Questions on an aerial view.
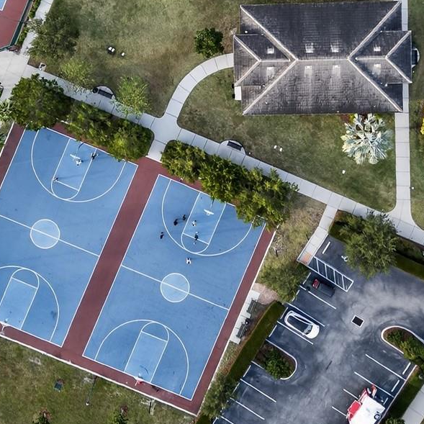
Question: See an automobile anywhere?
Yes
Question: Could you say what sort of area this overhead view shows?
sports ground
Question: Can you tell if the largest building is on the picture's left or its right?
right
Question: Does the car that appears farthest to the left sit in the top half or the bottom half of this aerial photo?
bottom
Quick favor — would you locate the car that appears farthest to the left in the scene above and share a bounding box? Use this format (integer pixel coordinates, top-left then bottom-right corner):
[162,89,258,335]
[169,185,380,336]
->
[282,309,318,337]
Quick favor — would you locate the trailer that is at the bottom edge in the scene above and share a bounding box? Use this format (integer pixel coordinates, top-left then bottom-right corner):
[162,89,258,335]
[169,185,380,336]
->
[346,389,386,424]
